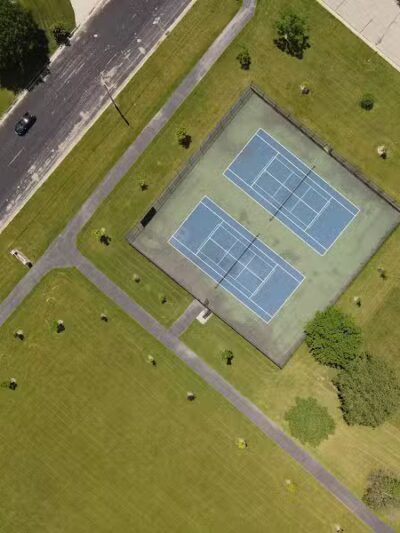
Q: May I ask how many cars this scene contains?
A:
1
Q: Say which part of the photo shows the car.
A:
top left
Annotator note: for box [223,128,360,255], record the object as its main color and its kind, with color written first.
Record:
blue tennis court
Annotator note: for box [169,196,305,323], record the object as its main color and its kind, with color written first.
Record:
blue tennis court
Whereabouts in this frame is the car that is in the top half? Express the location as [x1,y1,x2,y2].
[13,111,35,135]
